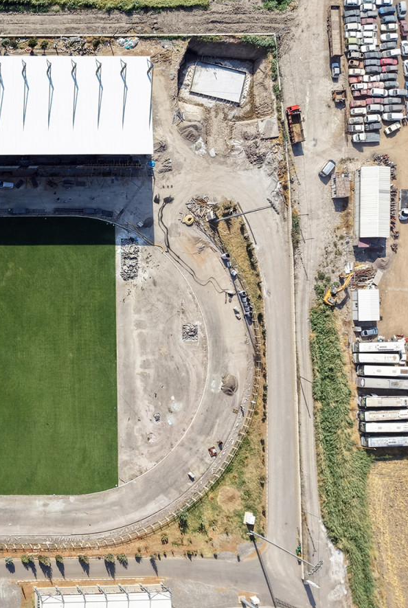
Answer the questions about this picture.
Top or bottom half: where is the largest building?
top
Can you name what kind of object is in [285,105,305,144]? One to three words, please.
vehicle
